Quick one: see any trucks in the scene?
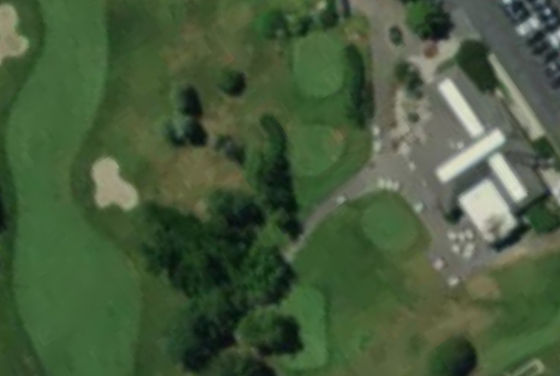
No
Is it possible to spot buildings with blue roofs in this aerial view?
No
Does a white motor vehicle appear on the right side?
Yes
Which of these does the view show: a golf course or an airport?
golf course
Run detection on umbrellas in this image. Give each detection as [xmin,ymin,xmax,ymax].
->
[456,232,466,242]
[451,244,460,253]
[465,242,475,251]
[461,249,471,259]
[465,230,474,239]
[447,230,456,240]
